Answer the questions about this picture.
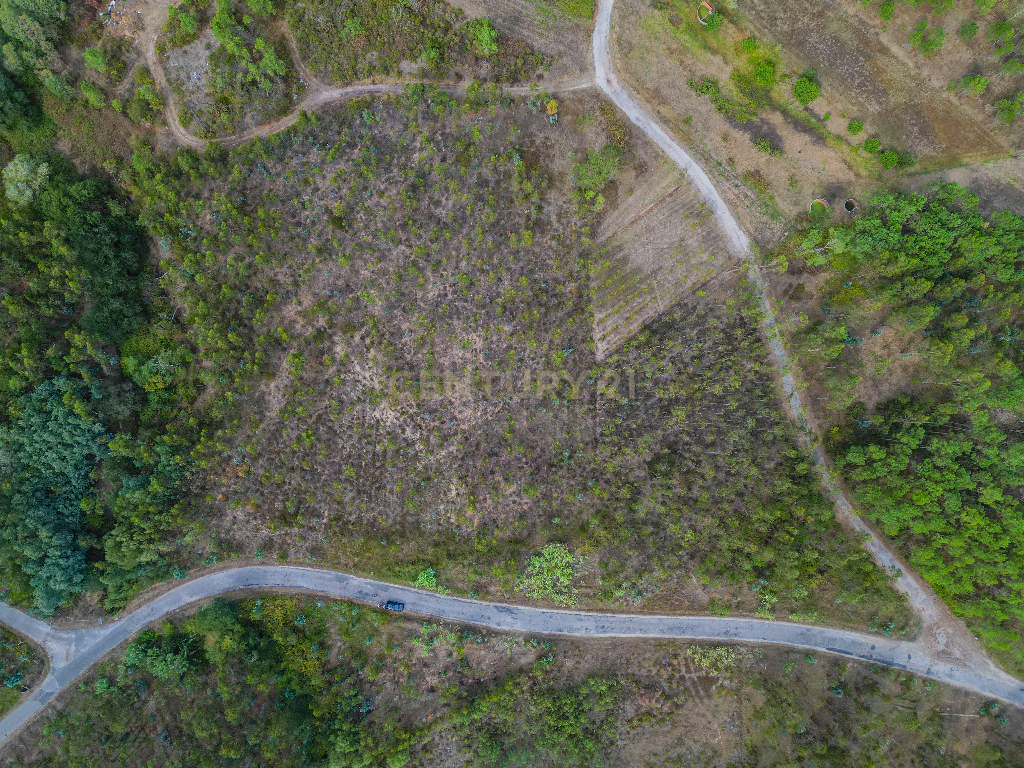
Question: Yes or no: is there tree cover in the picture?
Yes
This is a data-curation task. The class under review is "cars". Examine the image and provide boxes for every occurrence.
[382,599,406,612]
